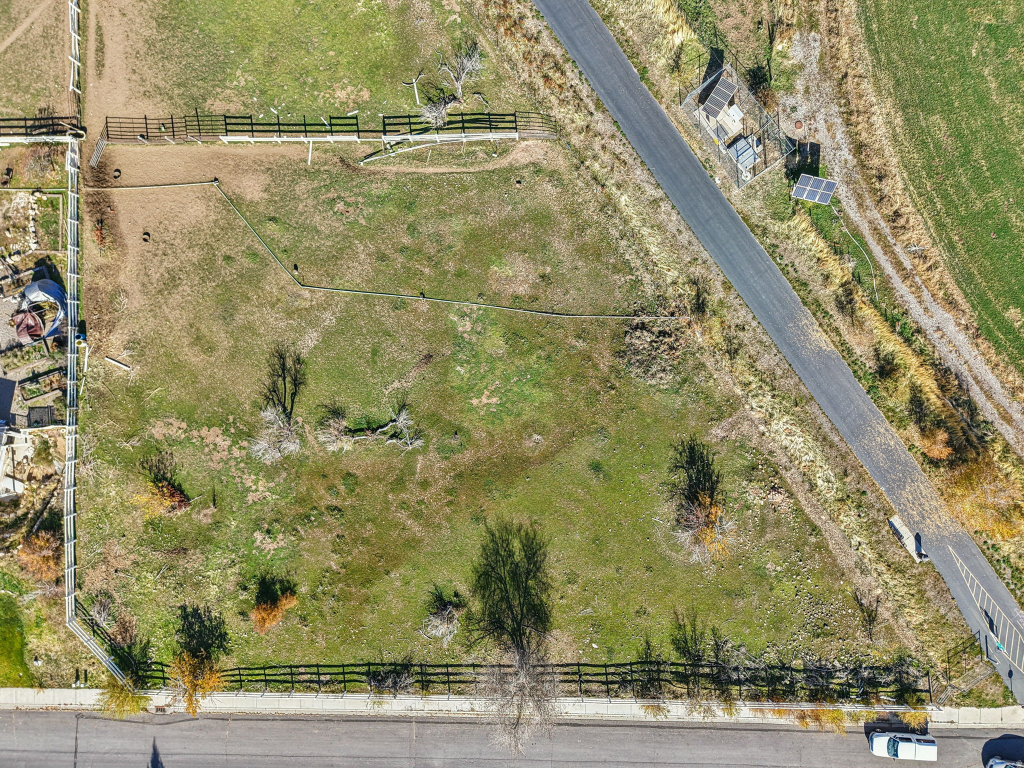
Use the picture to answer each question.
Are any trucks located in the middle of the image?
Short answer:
No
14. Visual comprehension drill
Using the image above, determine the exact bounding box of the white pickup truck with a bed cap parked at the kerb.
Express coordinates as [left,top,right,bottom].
[870,730,936,760]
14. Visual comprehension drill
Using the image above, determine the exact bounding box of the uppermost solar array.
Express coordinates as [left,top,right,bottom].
[701,77,738,119]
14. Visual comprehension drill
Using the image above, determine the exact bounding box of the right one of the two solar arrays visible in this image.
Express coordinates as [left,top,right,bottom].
[792,174,838,204]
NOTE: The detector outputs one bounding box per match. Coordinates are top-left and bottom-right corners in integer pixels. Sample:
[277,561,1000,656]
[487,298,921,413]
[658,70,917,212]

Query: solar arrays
[792,174,838,204]
[701,77,738,119]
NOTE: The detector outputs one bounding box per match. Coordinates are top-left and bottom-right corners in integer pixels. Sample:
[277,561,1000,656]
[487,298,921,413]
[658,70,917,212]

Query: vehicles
[870,730,936,760]
[986,757,1024,768]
